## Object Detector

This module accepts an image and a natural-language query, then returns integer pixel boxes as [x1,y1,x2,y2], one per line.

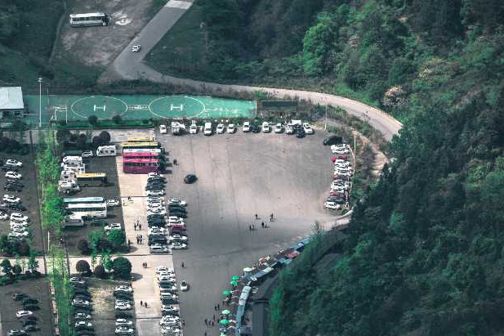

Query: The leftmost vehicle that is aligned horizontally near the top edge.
[67,13,108,28]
